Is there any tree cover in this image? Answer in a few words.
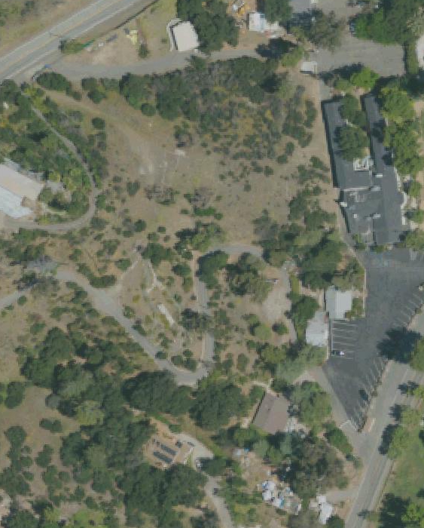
Yes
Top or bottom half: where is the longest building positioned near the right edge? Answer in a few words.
top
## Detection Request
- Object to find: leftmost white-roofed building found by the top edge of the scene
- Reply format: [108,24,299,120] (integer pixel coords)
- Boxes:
[166,18,199,51]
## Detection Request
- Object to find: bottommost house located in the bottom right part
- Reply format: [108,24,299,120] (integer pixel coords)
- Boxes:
[309,496,333,524]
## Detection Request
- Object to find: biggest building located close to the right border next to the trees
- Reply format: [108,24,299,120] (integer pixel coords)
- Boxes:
[323,95,405,244]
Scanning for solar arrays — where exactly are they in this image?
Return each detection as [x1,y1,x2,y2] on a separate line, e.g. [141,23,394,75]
[153,451,173,466]
[160,443,178,457]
